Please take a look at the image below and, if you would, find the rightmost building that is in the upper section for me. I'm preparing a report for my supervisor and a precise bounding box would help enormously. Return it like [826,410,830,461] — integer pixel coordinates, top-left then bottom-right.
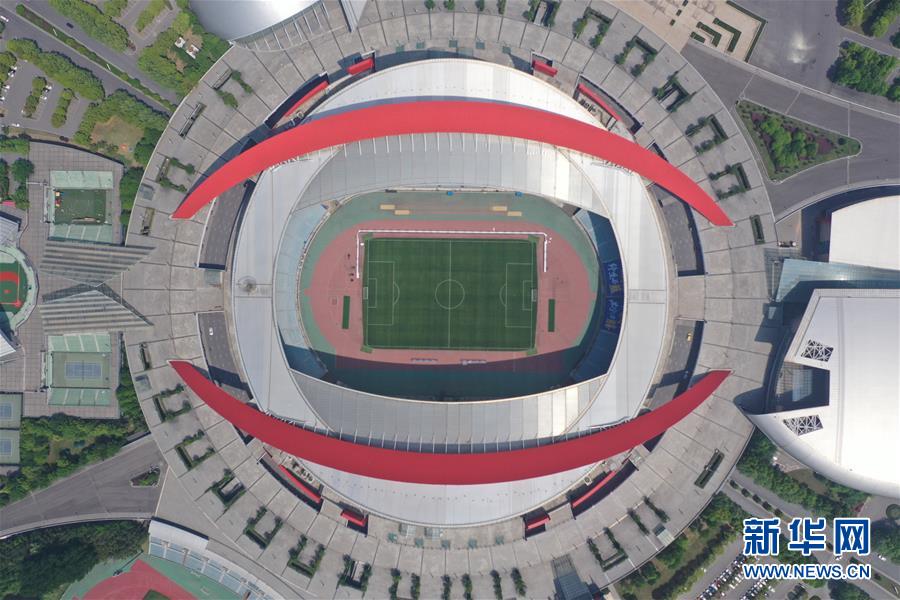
[816,195,900,271]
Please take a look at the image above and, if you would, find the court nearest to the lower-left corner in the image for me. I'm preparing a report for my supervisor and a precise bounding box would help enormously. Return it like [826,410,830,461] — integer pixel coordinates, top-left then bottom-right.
[0,428,24,465]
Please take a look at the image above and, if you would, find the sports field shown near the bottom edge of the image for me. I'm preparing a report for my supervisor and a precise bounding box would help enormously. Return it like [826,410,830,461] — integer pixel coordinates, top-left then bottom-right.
[66,551,238,600]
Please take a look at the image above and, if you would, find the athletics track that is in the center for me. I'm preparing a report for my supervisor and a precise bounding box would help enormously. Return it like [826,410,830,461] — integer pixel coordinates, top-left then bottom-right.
[301,192,599,397]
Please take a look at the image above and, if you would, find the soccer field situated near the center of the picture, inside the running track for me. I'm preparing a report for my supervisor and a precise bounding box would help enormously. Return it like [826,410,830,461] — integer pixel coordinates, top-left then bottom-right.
[362,237,536,351]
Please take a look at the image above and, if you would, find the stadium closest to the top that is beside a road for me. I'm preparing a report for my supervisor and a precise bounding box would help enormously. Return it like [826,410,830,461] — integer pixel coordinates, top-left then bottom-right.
[167,56,735,528]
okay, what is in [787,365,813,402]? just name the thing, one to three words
building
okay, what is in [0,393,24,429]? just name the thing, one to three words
tennis court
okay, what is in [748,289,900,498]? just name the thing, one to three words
building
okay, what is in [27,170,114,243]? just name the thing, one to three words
tennis court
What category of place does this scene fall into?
sports ground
